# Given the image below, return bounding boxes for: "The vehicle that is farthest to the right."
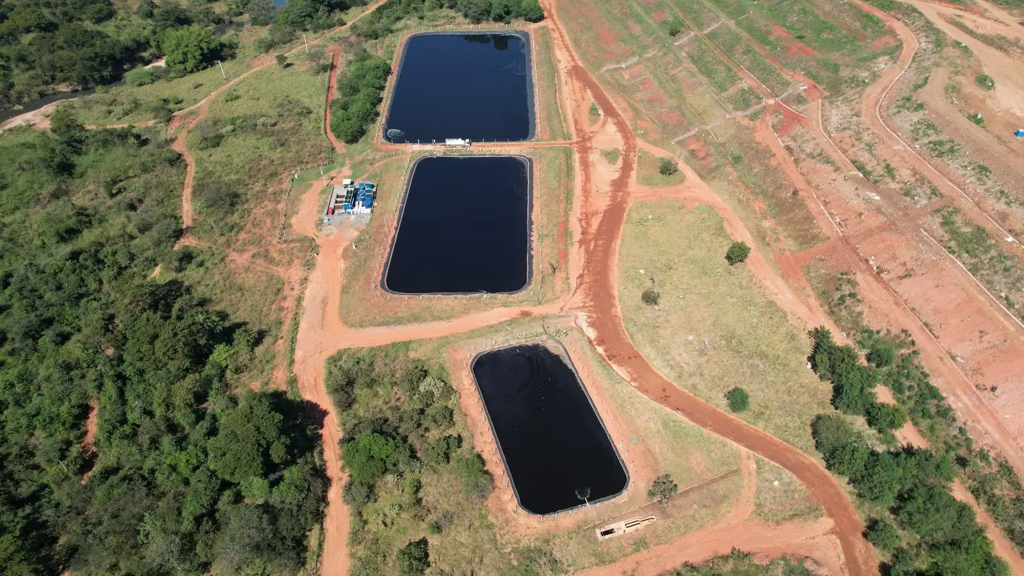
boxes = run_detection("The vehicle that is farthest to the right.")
[445,135,472,147]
